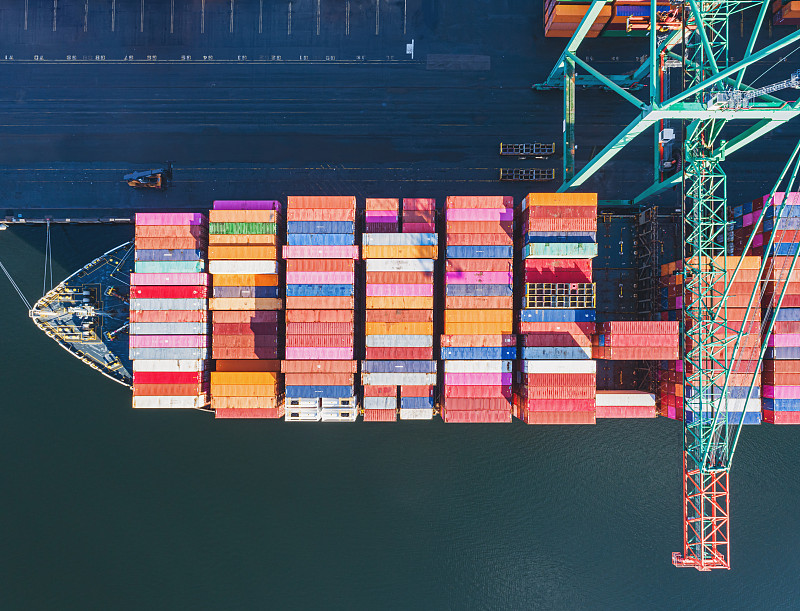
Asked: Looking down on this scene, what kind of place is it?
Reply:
port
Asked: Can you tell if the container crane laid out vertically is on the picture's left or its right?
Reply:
right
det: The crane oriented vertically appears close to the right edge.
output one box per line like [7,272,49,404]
[525,0,800,572]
